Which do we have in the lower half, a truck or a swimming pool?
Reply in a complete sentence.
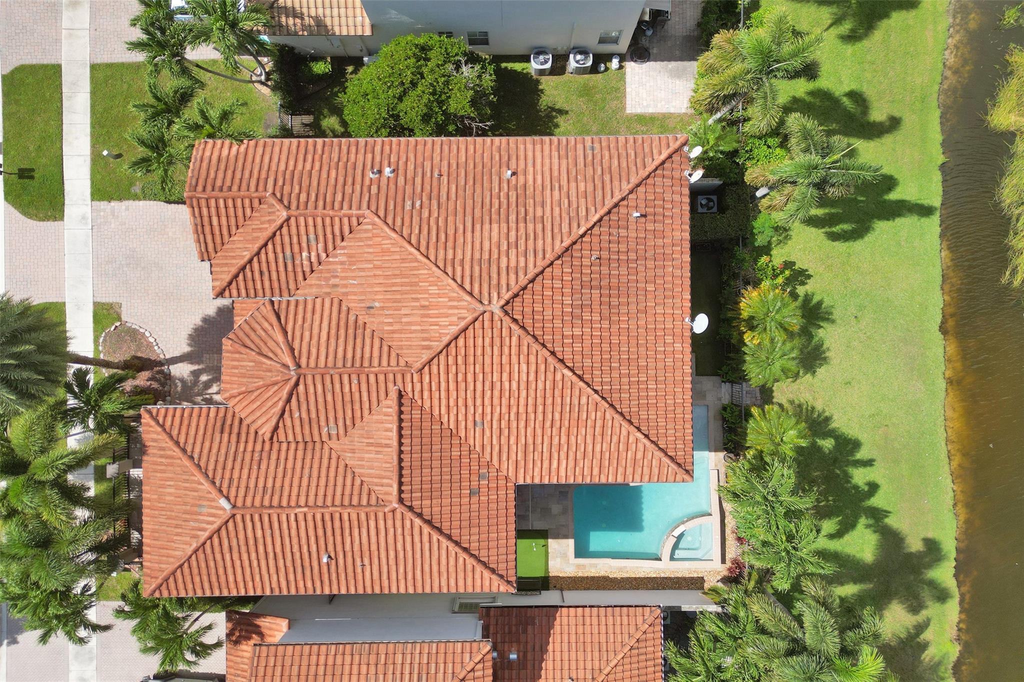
The feature located in the lower half is a swimming pool.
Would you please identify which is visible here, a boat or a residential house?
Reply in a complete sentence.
I can see a residential house in this picture.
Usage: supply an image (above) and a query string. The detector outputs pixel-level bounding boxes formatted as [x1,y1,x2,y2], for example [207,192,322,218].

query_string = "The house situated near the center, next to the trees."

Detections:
[137,131,697,601]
